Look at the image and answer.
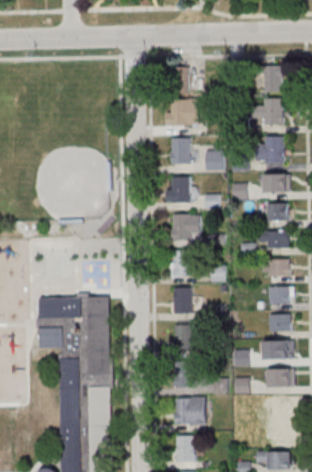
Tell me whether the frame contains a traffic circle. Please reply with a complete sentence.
No, I find no traffic circle anywhere in the image.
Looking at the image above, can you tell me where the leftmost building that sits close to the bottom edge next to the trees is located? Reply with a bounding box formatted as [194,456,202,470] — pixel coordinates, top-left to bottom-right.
[38,292,114,472]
